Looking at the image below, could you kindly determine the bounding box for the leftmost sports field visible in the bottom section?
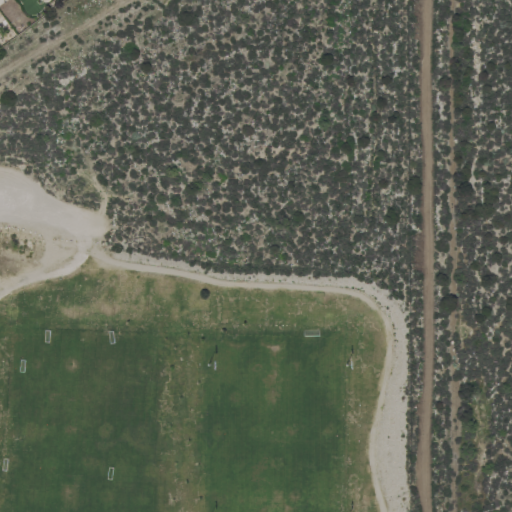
[10,330,160,512]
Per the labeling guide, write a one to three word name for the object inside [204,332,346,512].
sports field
